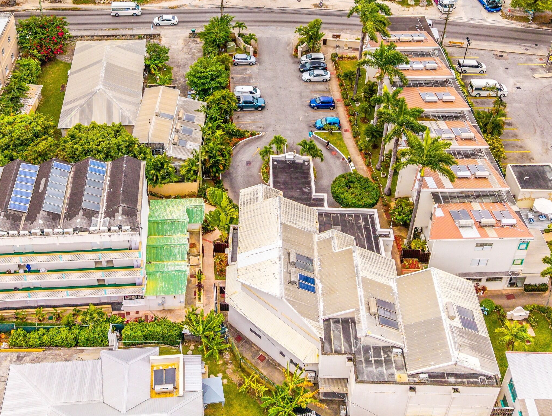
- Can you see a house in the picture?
Yes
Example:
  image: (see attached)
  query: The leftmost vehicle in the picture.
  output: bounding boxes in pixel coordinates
[111,1,141,16]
